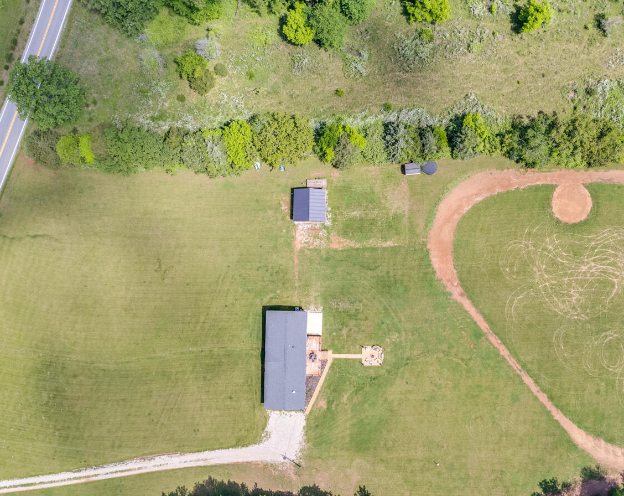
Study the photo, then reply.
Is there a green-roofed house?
No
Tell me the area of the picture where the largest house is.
bottom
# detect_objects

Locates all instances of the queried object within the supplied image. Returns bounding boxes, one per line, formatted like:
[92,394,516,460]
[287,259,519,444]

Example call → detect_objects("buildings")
[405,163,420,176]
[263,310,308,412]
[293,188,326,223]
